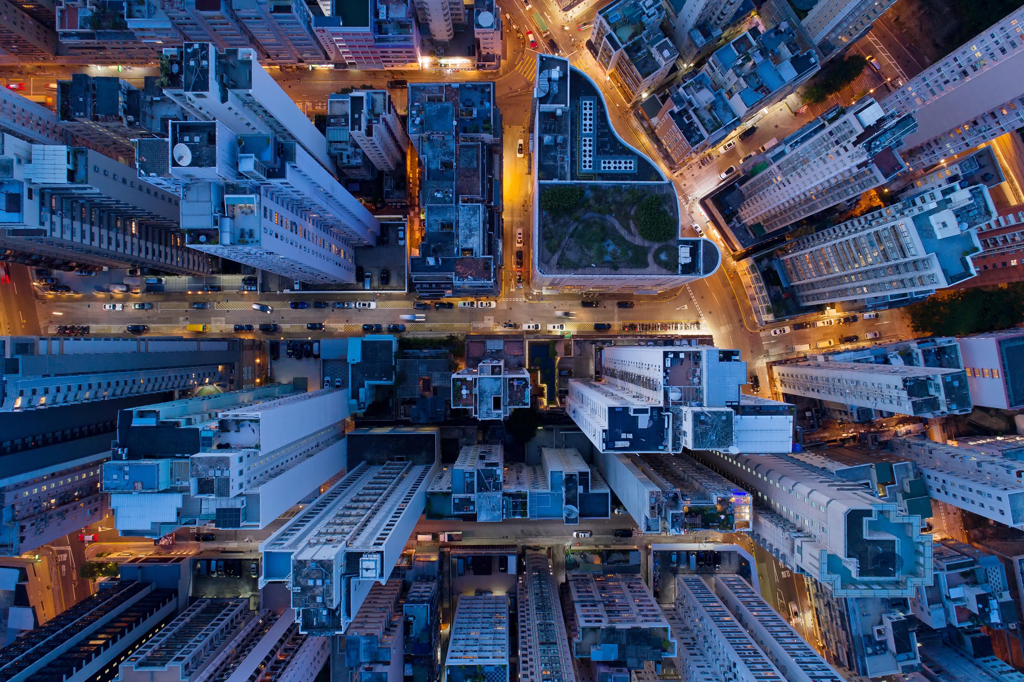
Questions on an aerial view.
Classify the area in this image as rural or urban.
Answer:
urban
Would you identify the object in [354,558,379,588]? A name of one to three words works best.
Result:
water tank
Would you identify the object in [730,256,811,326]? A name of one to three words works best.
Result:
building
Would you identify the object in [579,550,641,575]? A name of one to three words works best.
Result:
shed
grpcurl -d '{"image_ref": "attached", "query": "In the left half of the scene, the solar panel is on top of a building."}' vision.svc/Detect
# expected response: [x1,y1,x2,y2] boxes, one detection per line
[215,508,240,528]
